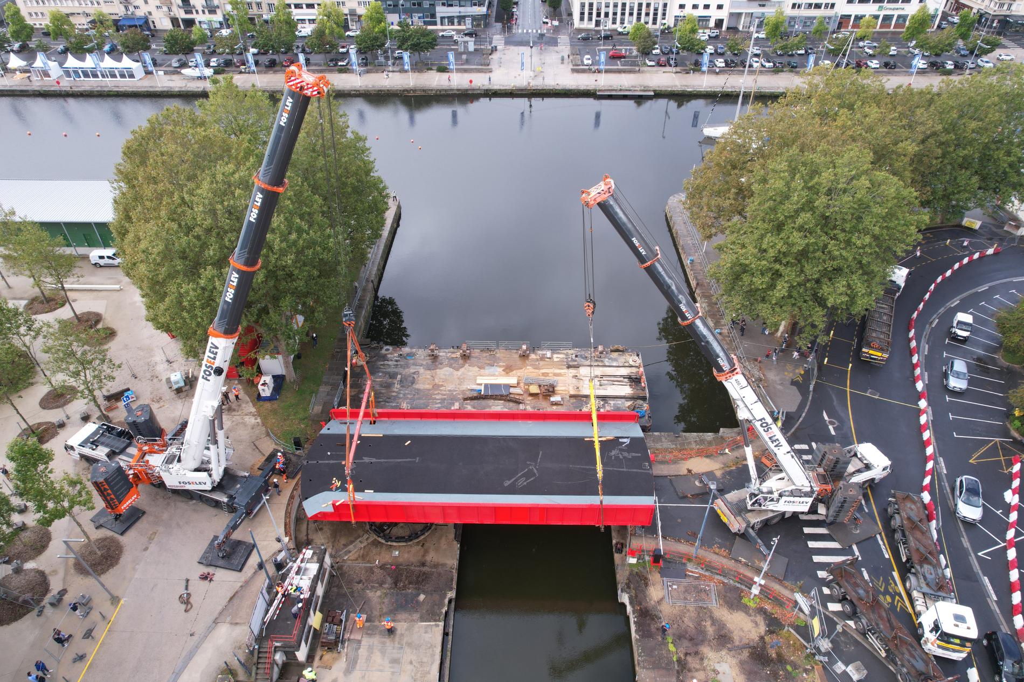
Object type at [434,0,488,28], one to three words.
building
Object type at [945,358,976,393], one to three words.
car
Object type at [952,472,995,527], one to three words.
car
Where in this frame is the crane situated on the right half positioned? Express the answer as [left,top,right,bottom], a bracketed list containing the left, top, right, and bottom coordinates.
[578,178,905,577]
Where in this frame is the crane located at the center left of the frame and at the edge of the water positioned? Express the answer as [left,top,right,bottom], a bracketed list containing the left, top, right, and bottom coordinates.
[63,60,358,555]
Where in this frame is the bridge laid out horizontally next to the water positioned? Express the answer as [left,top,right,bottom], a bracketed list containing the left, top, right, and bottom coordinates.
[301,410,655,530]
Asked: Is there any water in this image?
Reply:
Yes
